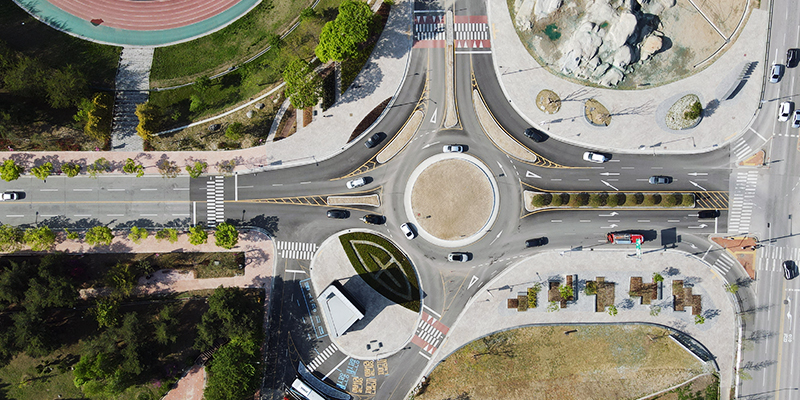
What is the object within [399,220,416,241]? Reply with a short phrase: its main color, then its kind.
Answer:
white car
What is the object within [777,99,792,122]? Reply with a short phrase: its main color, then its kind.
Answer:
white car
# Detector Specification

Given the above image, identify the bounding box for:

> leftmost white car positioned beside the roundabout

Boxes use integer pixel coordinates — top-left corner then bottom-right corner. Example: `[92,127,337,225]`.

[344,176,366,190]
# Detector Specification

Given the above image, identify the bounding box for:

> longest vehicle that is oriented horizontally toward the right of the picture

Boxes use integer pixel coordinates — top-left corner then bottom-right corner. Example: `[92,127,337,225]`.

[606,233,647,247]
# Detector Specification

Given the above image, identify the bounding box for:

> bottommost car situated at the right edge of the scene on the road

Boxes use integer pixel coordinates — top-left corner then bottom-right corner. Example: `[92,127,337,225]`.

[781,259,797,281]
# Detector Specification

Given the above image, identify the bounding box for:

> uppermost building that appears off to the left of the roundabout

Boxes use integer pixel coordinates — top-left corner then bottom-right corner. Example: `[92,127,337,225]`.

[317,280,366,337]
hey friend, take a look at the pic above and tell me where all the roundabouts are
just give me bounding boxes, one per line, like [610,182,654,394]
[362,86,563,316]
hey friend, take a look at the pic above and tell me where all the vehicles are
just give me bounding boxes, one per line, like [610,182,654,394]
[362,213,386,224]
[362,130,384,149]
[791,108,800,130]
[777,99,792,122]
[344,176,366,190]
[695,209,720,220]
[521,125,545,142]
[446,252,467,262]
[326,209,350,220]
[399,220,416,241]
[784,46,800,70]
[647,175,672,186]
[781,259,797,281]
[769,61,782,84]
[0,191,20,202]
[523,236,548,248]
[606,233,647,247]
[441,143,463,154]
[582,151,605,162]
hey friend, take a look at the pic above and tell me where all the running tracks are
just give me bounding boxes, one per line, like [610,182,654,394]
[12,0,262,48]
